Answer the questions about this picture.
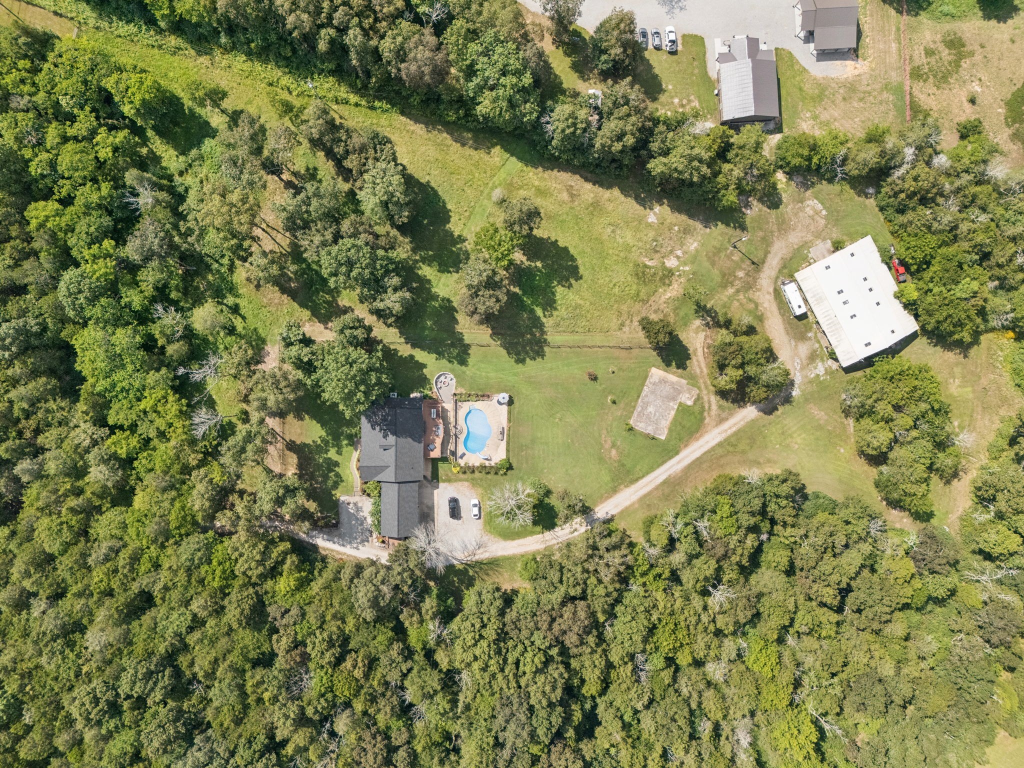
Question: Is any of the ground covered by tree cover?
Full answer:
Yes, some tree cover is visible.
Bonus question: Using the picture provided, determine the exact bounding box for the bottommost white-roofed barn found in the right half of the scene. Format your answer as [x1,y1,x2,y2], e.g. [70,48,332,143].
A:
[790,235,918,368]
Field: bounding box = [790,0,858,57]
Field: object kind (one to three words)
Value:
house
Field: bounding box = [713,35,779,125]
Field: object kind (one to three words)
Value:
house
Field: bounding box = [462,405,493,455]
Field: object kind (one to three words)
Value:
swimming pool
